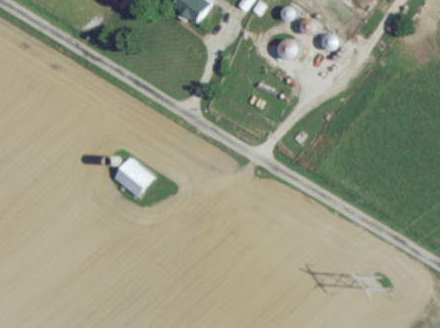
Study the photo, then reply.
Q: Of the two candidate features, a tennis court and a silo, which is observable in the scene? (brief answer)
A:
silo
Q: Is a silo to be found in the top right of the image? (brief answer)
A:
Yes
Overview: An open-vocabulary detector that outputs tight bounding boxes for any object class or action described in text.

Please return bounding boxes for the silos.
[281,4,301,22]
[301,17,322,36]
[278,38,302,60]
[102,154,122,166]
[322,33,343,52]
